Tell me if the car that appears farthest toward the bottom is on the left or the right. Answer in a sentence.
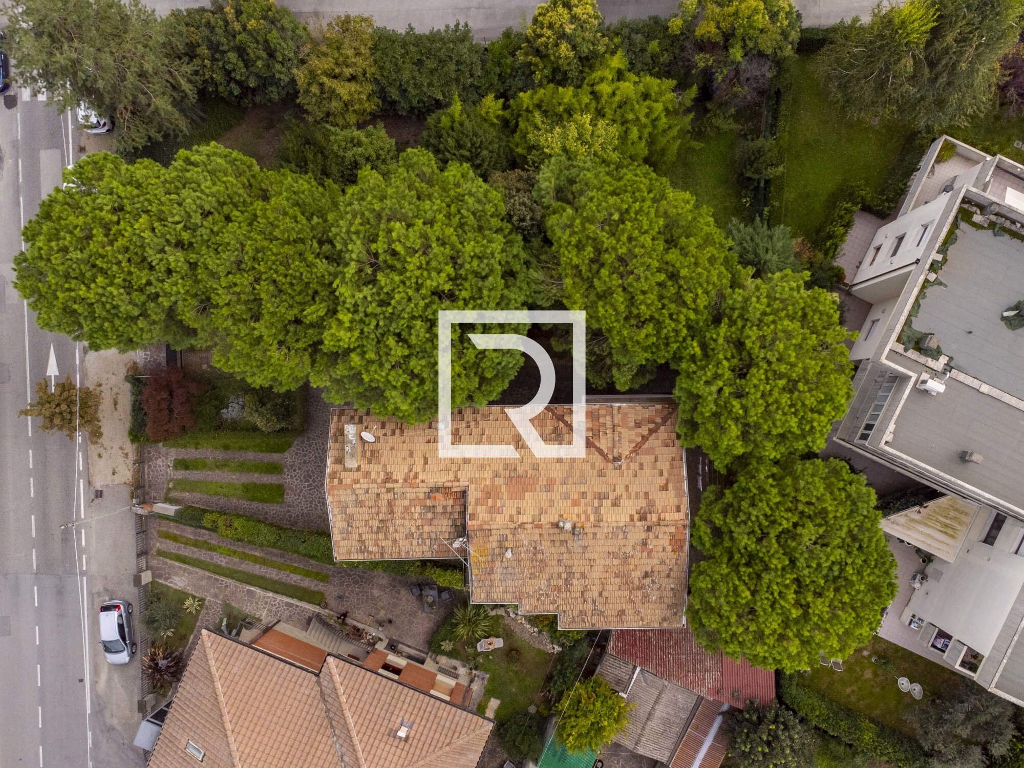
The car that appears farthest toward the bottom sits on the left side.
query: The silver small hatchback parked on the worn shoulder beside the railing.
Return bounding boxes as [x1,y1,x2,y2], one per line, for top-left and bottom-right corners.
[90,601,133,667]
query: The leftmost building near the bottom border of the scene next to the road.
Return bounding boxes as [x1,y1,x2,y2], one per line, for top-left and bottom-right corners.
[146,611,501,768]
